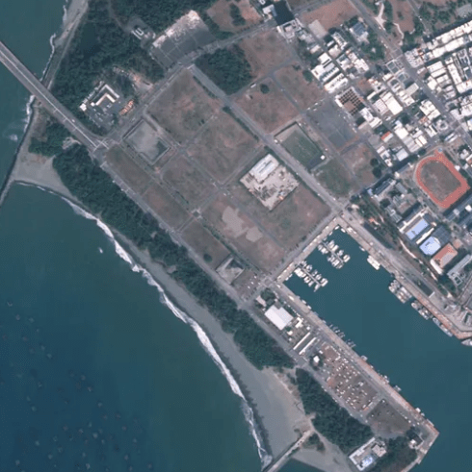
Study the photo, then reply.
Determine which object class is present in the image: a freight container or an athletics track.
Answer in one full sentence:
Of the two, only an athletics track appears.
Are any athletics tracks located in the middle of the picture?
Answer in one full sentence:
No, there is no athletics track in the middle of the picture.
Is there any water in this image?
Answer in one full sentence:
Yes, water can be seen from above here.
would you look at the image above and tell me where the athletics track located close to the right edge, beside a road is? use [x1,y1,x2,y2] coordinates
[416,157,469,209]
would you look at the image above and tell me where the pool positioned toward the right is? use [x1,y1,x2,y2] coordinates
[357,454,372,470]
